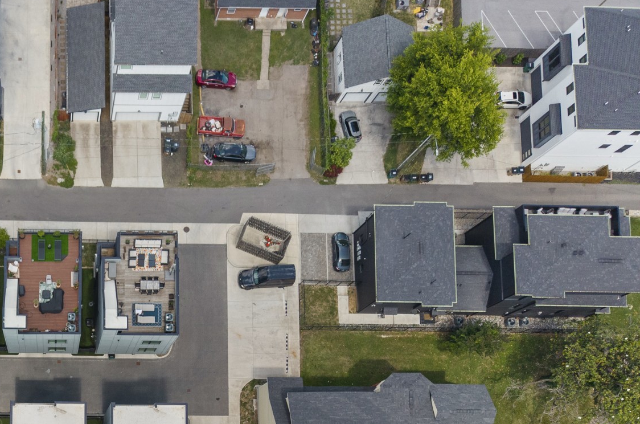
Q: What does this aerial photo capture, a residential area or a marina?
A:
residential area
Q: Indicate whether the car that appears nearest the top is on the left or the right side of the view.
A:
left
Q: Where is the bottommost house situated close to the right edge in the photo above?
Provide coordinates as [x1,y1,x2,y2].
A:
[461,204,640,318]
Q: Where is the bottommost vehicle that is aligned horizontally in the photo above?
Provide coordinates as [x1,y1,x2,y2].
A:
[238,263,297,290]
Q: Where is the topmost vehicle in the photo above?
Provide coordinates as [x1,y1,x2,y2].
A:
[195,68,237,92]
